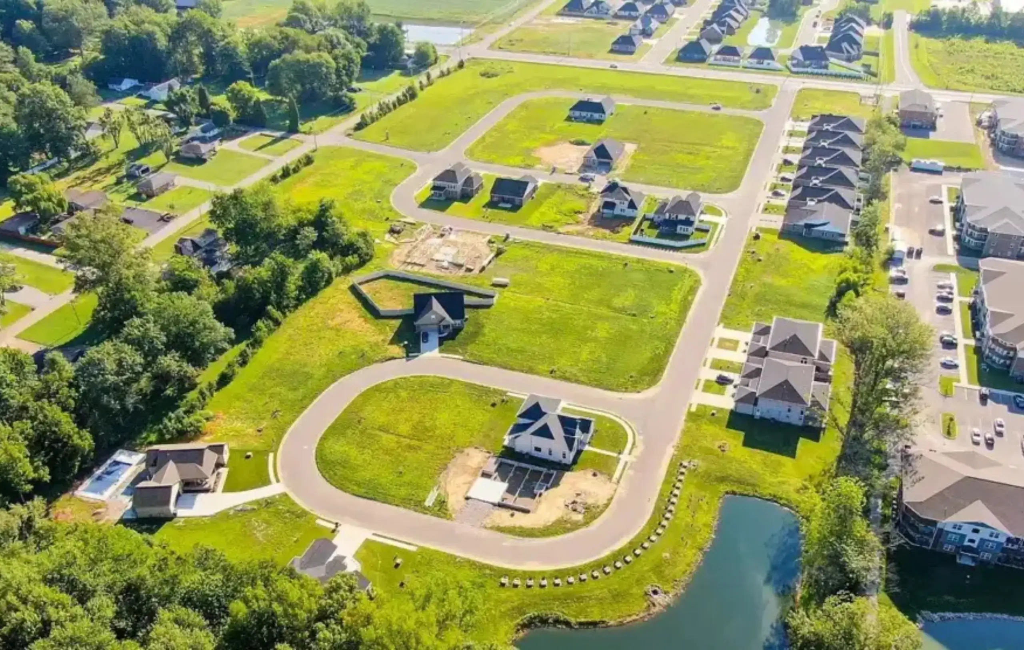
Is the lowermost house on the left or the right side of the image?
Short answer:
left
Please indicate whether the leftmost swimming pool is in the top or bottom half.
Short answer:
bottom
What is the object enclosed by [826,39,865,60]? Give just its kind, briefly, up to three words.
house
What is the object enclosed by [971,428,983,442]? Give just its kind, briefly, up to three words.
vehicle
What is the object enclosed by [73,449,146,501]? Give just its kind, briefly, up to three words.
swimming pool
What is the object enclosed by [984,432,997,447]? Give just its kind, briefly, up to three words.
vehicle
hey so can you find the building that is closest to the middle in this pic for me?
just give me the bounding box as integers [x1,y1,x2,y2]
[413,292,464,330]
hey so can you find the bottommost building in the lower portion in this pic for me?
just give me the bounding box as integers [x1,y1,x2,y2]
[282,543,374,597]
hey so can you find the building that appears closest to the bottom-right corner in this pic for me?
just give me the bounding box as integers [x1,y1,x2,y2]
[890,443,1024,573]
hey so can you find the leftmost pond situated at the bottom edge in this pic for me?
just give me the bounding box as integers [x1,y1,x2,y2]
[517,493,802,650]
